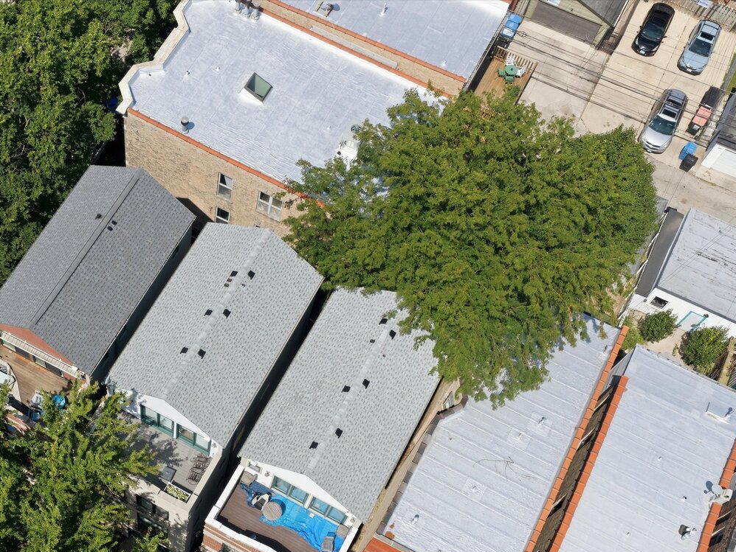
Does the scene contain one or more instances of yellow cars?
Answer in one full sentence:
No, there appears to be no yellow car in this shot.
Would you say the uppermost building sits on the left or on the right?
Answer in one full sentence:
The uppermost building appears in the right half of the scene.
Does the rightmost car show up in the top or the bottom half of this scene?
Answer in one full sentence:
The rightmost car is in the top half of the image.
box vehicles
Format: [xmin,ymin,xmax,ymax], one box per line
[634,0,681,53]
[646,76,701,149]
[682,6,731,70]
